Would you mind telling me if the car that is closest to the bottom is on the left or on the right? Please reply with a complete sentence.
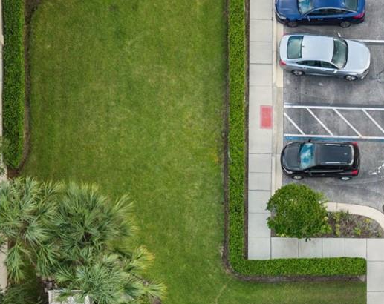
You can find the car that is closest to the bottom on the right side of the picture.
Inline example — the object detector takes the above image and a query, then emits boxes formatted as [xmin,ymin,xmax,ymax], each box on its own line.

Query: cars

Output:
[273,0,364,22]
[276,131,362,178]
[280,28,372,75]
